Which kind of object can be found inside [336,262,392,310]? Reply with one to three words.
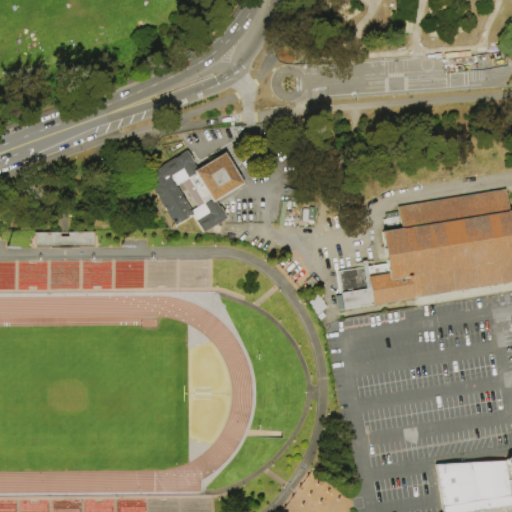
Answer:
building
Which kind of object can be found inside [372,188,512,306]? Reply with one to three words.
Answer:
building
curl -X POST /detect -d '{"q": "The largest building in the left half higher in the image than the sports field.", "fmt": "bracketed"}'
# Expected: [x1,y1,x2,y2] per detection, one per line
[157,150,226,230]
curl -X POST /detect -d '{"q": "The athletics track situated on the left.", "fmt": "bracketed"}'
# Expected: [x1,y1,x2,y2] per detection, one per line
[0,292,254,495]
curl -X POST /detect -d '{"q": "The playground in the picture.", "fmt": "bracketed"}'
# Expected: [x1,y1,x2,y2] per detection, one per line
[284,468,356,512]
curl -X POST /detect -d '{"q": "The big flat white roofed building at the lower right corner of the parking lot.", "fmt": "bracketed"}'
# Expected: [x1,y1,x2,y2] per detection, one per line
[436,457,512,512]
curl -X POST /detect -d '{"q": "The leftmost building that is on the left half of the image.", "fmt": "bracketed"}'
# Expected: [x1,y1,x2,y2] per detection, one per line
[36,232,96,247]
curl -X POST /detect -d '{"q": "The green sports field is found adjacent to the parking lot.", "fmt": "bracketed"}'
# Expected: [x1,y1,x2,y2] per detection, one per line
[0,316,231,470]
